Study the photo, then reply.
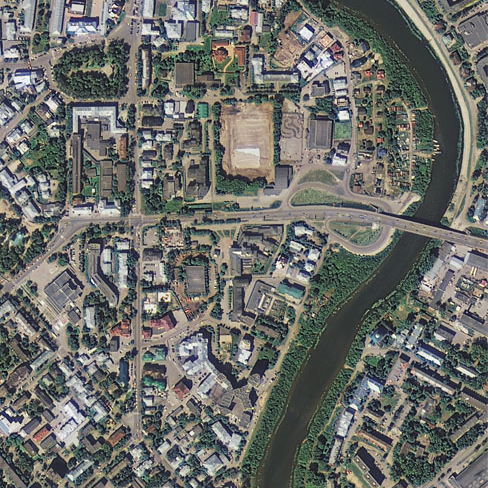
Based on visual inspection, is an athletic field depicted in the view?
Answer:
Yes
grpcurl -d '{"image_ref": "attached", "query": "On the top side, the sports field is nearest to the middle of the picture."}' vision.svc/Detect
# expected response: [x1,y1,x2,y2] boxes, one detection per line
[221,102,274,182]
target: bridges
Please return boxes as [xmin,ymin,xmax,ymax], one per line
[308,207,488,251]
